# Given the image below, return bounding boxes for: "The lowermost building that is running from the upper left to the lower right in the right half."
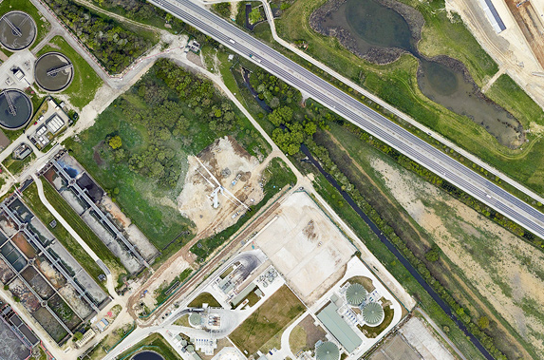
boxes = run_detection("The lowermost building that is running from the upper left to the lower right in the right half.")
[317,302,363,354]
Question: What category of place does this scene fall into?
industrial area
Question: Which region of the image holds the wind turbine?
center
